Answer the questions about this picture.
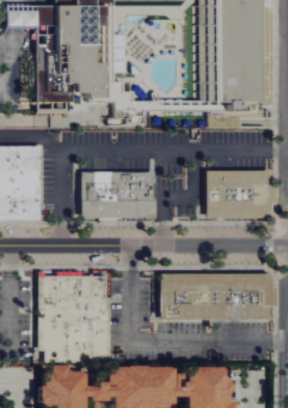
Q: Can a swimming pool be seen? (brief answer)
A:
Yes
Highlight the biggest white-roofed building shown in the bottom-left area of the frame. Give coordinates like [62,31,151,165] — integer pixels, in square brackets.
[34,270,112,361]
